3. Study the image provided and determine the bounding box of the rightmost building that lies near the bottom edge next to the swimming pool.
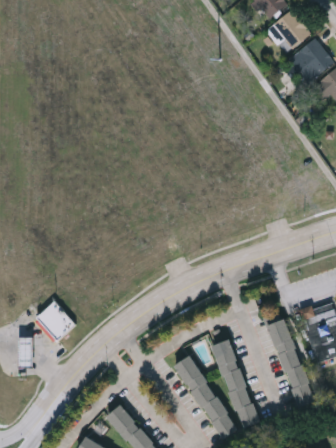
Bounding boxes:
[212,340,259,428]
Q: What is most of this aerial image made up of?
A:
grass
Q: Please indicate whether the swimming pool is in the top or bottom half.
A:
bottom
